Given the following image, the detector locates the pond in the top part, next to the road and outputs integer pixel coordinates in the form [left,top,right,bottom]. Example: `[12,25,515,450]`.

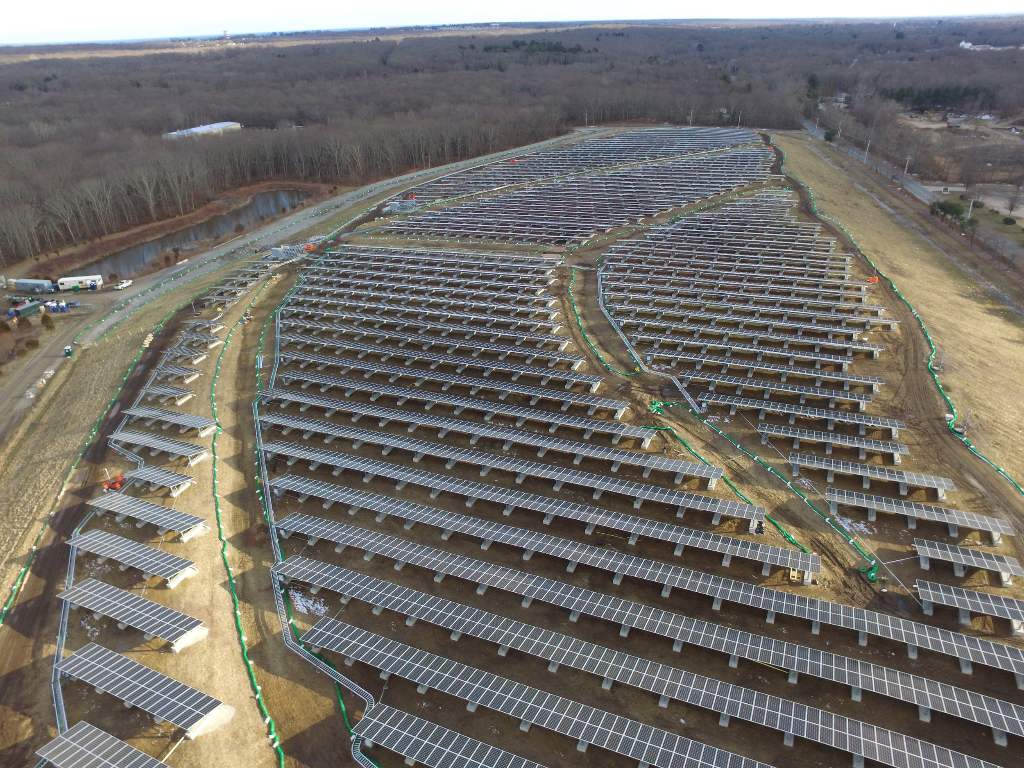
[72,190,311,283]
